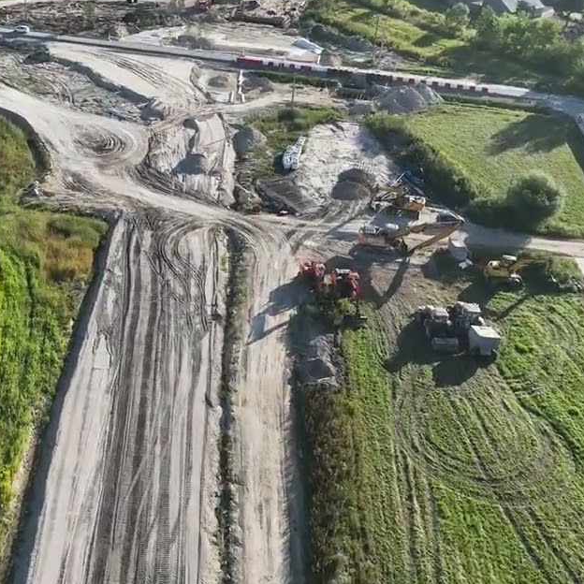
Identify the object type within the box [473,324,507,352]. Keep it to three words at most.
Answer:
trailer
